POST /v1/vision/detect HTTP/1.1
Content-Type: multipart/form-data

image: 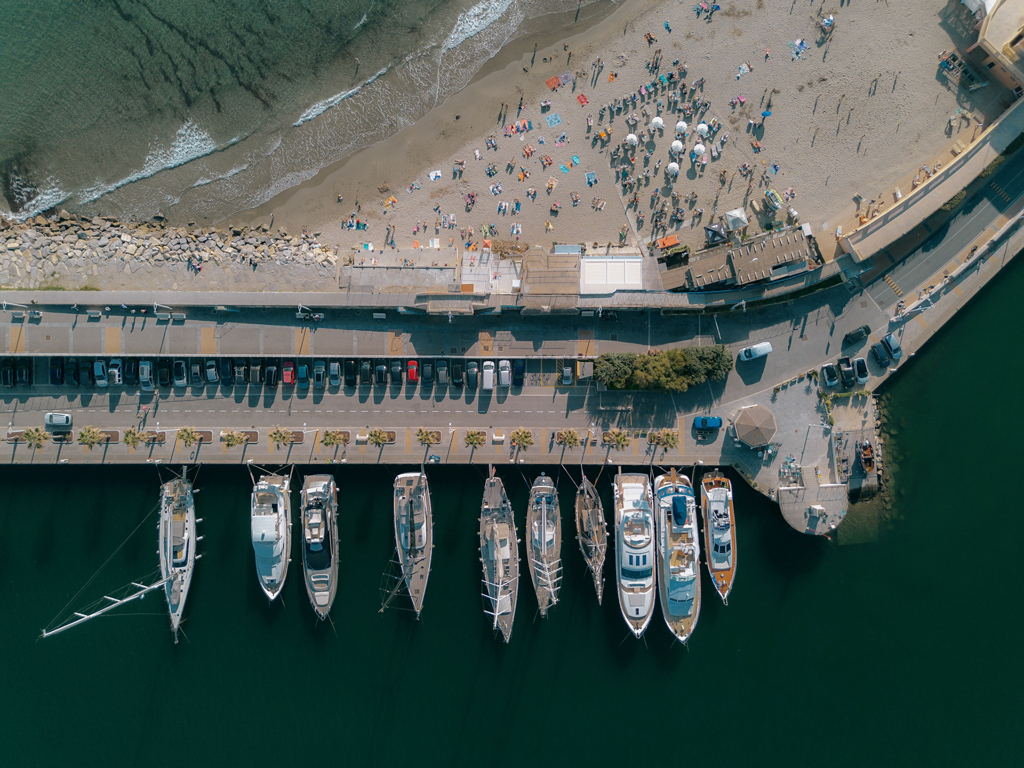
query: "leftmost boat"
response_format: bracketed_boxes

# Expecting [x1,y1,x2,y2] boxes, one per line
[40,463,201,644]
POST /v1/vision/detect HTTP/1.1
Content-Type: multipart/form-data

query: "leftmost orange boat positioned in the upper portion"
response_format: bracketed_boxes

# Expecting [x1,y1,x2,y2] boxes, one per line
[655,235,681,249]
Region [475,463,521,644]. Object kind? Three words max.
boat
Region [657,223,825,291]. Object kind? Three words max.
building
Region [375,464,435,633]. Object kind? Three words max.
boat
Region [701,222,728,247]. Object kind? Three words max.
tent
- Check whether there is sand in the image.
Yes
